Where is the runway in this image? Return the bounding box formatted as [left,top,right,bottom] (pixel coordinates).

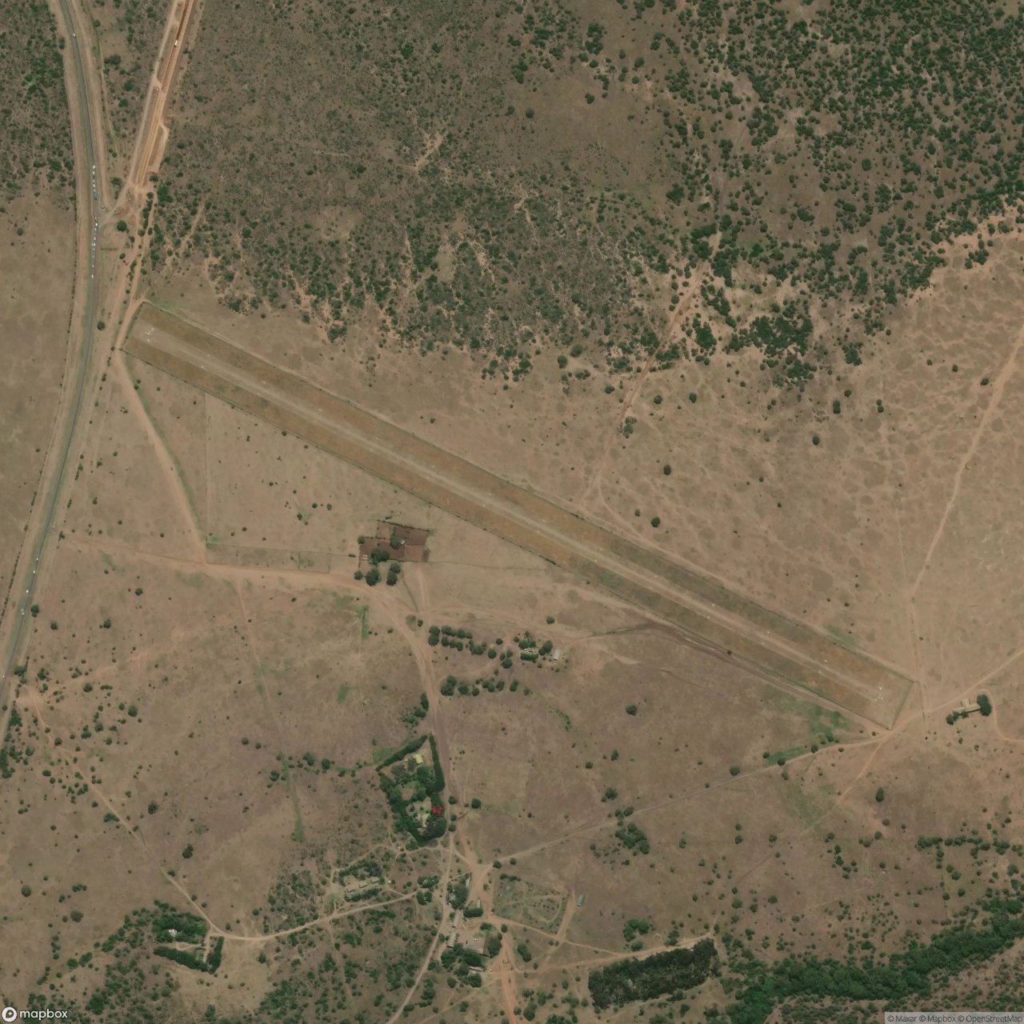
[121,302,913,730]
